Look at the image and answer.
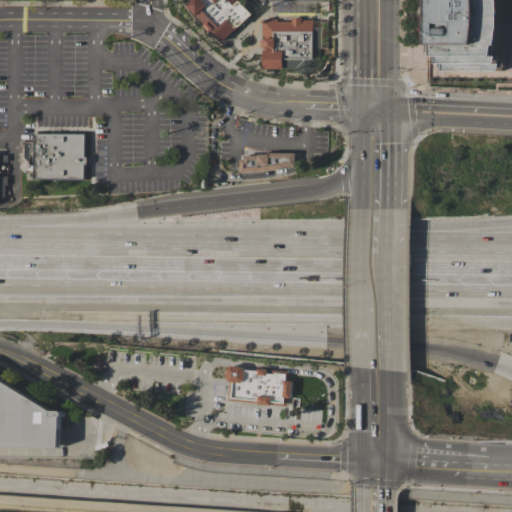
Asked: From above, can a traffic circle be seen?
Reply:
No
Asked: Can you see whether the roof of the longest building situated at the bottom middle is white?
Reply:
Yes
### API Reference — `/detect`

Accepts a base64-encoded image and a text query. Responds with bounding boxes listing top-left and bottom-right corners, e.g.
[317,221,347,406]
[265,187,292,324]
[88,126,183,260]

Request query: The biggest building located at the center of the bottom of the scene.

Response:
[226,367,301,407]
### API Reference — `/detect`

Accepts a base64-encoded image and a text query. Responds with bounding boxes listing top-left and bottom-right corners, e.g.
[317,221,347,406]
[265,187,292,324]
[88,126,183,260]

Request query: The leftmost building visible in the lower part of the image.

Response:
[0,381,66,448]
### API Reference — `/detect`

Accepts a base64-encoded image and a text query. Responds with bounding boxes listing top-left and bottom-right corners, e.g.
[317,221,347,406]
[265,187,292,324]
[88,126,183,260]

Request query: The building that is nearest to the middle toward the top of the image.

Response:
[238,146,296,174]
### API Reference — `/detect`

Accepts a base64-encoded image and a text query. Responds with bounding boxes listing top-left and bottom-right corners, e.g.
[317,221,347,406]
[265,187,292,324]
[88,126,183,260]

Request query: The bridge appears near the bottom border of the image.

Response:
[349,480,410,512]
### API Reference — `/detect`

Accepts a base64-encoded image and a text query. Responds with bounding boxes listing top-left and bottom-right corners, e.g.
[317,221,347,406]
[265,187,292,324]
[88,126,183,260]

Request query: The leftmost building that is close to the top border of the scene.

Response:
[184,0,254,42]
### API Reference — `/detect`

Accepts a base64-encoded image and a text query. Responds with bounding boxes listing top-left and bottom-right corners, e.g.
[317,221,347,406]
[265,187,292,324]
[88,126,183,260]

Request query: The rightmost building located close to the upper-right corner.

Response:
[418,0,496,71]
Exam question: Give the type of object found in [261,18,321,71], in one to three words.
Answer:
building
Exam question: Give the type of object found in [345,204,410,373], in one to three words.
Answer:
overpass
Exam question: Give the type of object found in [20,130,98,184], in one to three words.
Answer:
building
